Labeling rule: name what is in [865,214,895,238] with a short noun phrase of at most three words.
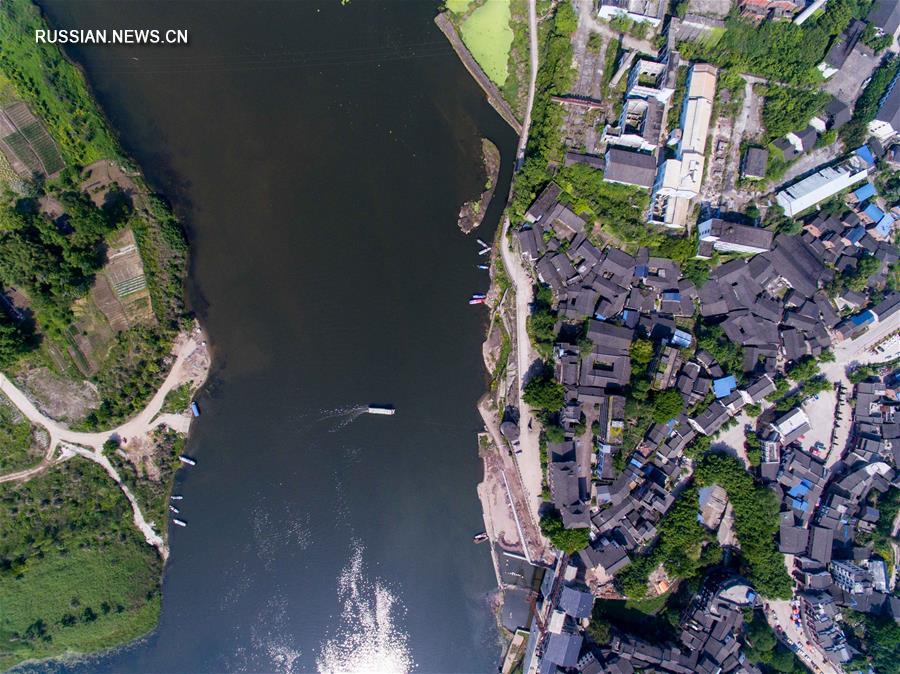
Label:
shed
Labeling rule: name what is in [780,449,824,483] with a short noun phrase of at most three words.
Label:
house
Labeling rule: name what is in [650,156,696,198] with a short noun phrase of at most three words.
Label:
building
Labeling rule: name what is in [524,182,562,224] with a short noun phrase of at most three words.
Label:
house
